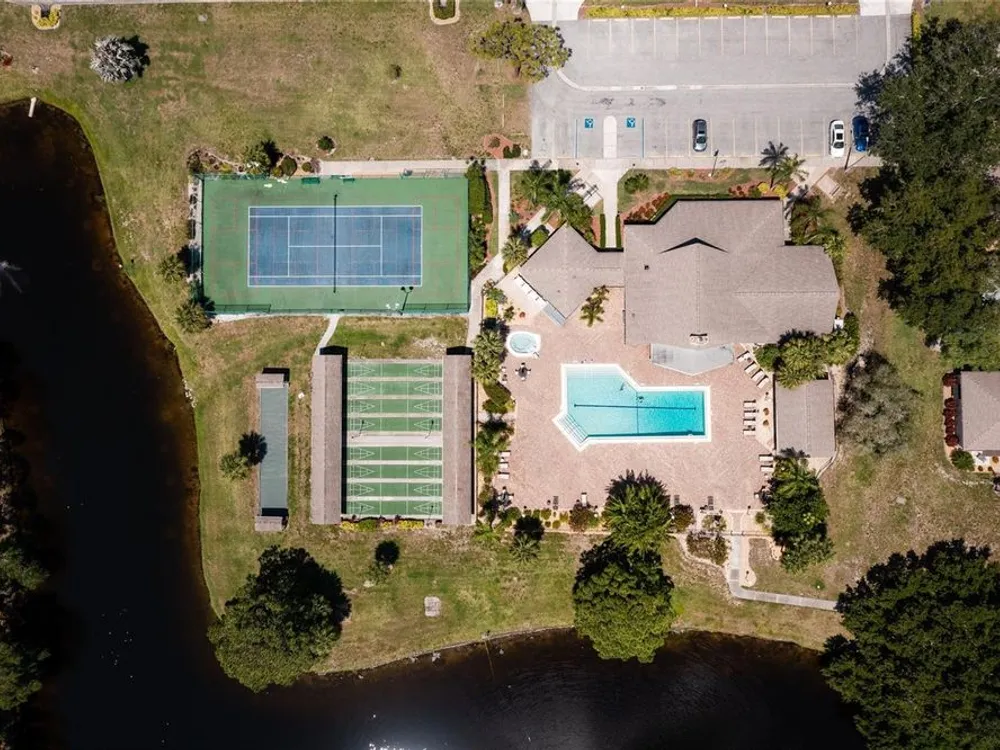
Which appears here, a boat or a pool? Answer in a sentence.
The one in the frame is a pool.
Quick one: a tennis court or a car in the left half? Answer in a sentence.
You can see a tennis court in the left half.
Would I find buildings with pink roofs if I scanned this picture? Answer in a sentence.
No, there appears to be no building with a pink roof in this shot.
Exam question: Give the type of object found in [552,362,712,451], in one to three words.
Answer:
swimming pool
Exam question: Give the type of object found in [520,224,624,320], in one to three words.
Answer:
building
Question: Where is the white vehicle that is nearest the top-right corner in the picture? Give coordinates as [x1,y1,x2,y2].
[830,119,849,155]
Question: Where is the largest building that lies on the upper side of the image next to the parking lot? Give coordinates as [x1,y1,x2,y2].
[623,199,839,350]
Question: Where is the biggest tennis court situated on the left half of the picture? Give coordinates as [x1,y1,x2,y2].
[203,177,469,313]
